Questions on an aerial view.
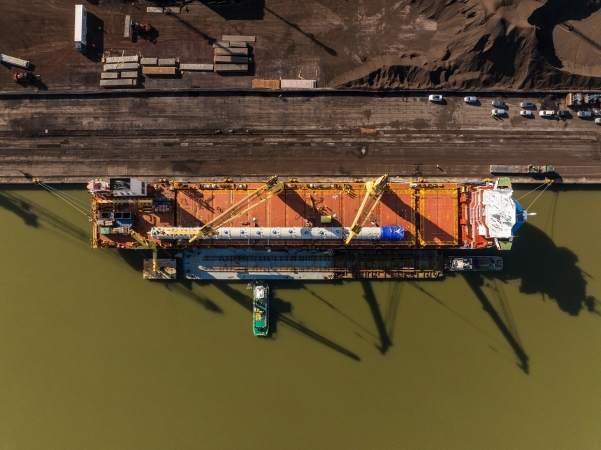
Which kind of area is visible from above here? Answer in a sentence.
What you see here is a port.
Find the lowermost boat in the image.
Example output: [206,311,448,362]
[252,285,269,339]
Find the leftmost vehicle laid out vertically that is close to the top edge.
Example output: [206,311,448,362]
[75,5,89,56]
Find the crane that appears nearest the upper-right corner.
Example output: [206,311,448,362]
[344,172,394,249]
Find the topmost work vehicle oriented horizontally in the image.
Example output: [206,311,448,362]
[123,17,158,36]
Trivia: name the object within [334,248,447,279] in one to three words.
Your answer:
ship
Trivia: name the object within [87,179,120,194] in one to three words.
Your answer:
boat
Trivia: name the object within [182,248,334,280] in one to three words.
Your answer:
ship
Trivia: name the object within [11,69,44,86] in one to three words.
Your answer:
work vehicle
